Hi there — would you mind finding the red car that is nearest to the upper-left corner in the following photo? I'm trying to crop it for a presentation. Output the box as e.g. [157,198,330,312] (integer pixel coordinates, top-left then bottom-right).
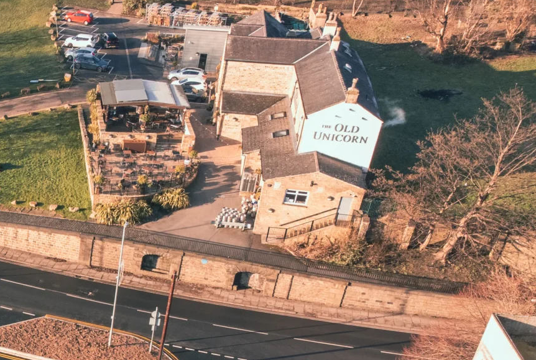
[65,9,94,22]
